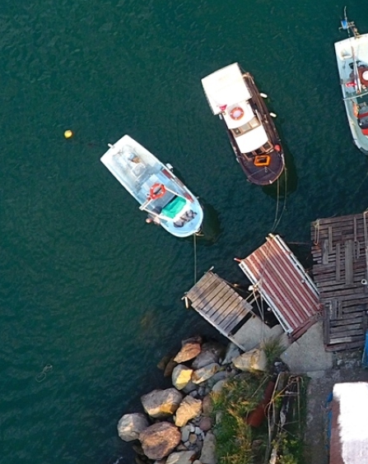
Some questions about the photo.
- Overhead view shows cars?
No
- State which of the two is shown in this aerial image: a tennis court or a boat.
boat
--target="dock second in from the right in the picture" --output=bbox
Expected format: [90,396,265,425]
[234,233,327,343]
